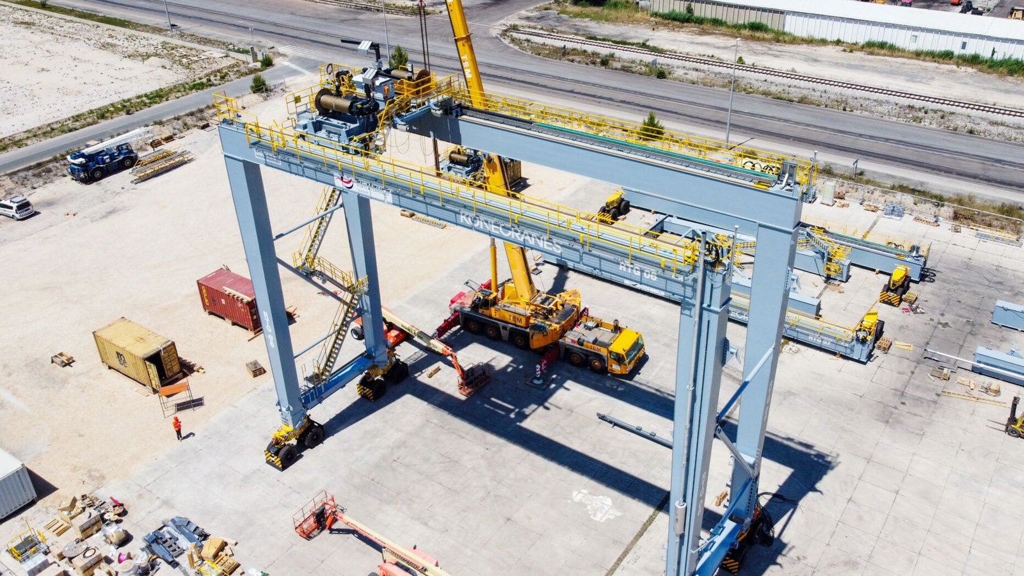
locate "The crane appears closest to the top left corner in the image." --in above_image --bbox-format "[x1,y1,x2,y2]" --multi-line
[61,120,162,183]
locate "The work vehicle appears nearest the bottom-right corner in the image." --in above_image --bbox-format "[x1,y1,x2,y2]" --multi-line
[972,393,1024,447]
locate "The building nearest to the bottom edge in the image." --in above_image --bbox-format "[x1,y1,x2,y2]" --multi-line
[818,175,842,208]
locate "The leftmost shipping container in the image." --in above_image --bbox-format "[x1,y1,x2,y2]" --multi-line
[0,447,36,518]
